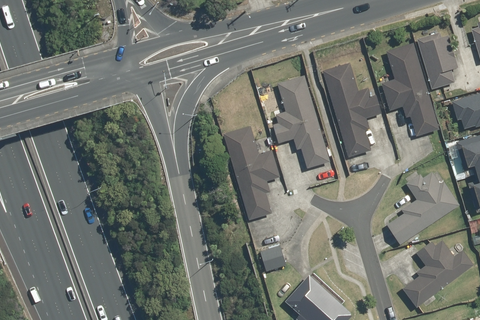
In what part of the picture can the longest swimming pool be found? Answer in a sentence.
The longest swimming pool appears toward the right of the photo.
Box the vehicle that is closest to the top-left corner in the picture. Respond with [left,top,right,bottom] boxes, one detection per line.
[0,4,14,28]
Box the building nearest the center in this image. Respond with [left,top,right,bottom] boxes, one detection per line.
[224,127,280,220]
